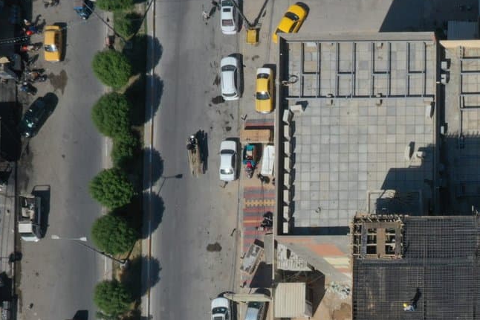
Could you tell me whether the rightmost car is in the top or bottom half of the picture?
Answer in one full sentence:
Seen from above, the rightmost car lies in the top half of the view.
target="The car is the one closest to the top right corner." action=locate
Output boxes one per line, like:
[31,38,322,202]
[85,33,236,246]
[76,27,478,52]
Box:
[274,3,308,41]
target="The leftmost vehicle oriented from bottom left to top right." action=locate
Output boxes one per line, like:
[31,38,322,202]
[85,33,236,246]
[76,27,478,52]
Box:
[19,97,56,141]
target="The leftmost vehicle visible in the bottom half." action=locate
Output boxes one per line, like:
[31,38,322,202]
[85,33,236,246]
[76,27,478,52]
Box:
[17,191,43,239]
